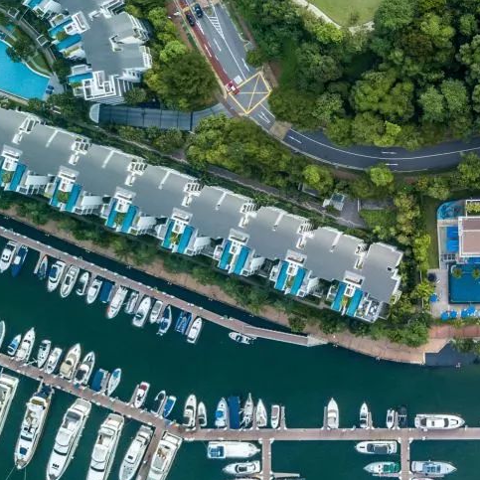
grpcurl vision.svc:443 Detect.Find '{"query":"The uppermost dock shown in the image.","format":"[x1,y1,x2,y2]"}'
[0,226,309,346]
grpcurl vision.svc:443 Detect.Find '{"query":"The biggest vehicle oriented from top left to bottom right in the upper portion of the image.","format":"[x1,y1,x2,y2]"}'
[224,79,238,94]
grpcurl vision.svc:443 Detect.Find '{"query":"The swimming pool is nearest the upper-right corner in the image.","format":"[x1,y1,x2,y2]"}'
[437,200,464,226]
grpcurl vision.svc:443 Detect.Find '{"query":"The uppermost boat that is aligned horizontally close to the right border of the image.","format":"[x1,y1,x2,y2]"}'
[413,413,463,429]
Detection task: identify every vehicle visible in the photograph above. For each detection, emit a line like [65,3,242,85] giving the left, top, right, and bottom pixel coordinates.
[194,3,202,17]
[186,13,195,26]
[224,79,238,94]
